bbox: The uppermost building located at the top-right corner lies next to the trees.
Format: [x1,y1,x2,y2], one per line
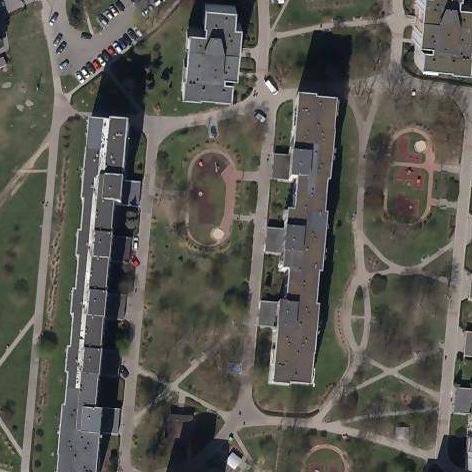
[412,0,472,81]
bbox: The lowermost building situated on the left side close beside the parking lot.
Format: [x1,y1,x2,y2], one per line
[56,116,129,472]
